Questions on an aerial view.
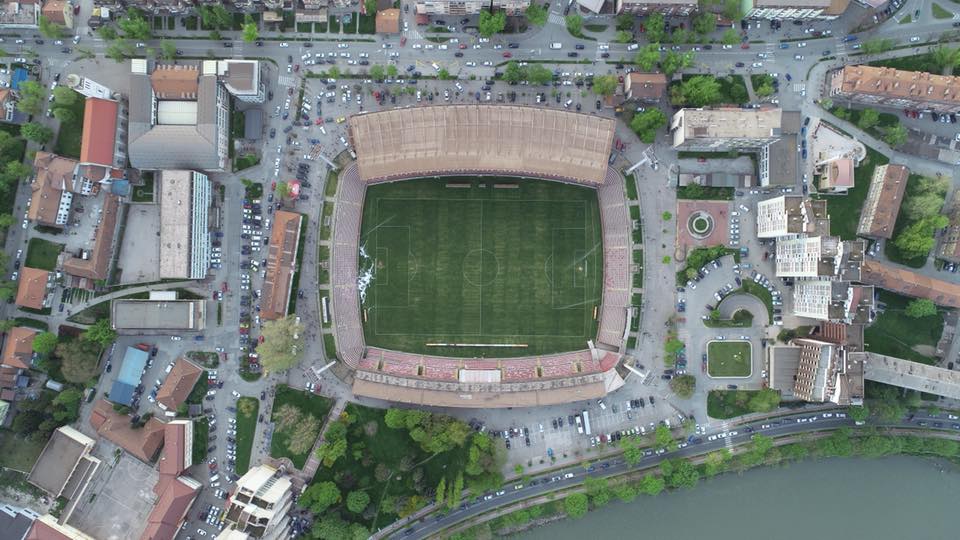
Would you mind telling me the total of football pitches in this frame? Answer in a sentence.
In total, there is 1 football pitch in the scene.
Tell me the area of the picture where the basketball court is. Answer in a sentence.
The basketball court appears toward the bottom left of the photo.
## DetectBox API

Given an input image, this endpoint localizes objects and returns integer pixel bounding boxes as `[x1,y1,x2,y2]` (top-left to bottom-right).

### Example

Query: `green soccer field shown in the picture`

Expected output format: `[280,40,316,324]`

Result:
[360,178,603,357]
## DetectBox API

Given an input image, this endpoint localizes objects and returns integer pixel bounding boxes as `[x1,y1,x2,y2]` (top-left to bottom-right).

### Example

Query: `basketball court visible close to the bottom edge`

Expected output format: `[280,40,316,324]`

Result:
[92,447,156,540]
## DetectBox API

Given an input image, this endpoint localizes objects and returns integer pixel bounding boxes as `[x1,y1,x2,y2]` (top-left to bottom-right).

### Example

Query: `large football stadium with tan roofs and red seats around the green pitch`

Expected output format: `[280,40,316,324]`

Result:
[332,104,630,408]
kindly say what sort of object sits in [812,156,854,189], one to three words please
house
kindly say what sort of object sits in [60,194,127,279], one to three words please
house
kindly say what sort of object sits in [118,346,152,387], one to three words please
building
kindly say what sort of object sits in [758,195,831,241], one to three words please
building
